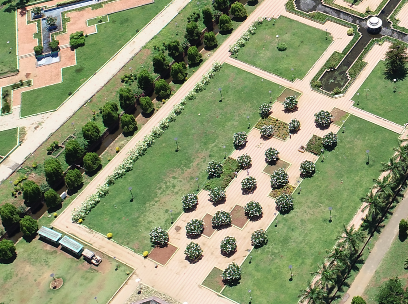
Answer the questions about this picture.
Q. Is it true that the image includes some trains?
Yes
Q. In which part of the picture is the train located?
bottom left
